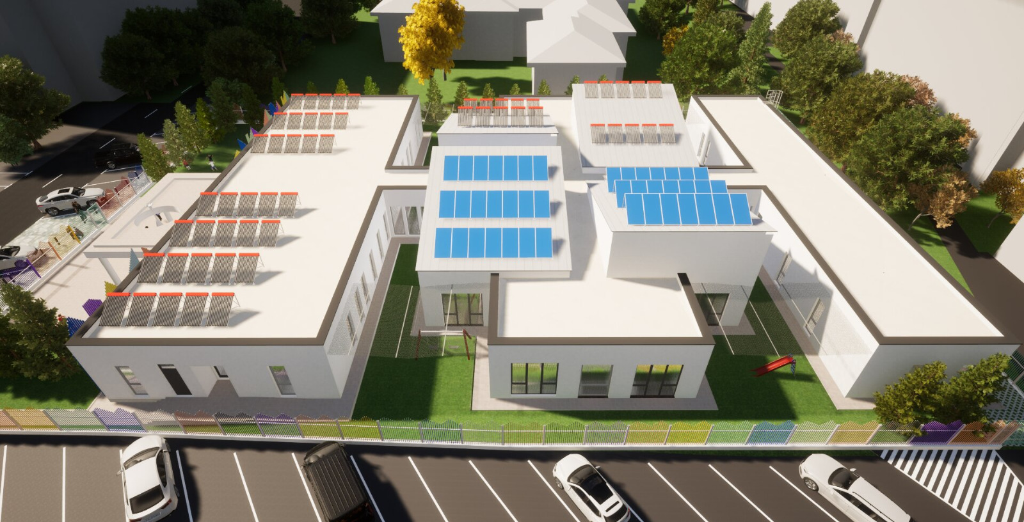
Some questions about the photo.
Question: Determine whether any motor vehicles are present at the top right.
No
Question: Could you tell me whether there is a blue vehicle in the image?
No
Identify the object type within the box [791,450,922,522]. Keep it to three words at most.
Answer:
car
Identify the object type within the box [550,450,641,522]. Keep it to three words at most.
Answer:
car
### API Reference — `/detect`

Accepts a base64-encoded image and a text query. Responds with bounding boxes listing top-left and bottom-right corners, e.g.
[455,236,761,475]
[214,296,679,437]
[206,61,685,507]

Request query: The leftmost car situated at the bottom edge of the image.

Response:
[114,432,177,522]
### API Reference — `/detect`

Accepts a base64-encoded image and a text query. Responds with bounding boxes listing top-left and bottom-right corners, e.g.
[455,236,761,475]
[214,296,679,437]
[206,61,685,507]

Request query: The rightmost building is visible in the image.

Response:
[994,217,1024,281]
